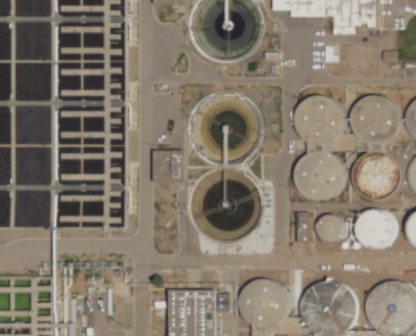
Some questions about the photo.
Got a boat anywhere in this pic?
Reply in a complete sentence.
No, the picture doesn't show any boat.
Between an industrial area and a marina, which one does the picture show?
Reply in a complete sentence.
This image shows an industrial area.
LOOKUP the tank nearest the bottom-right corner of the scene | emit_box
[366,280,416,336]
